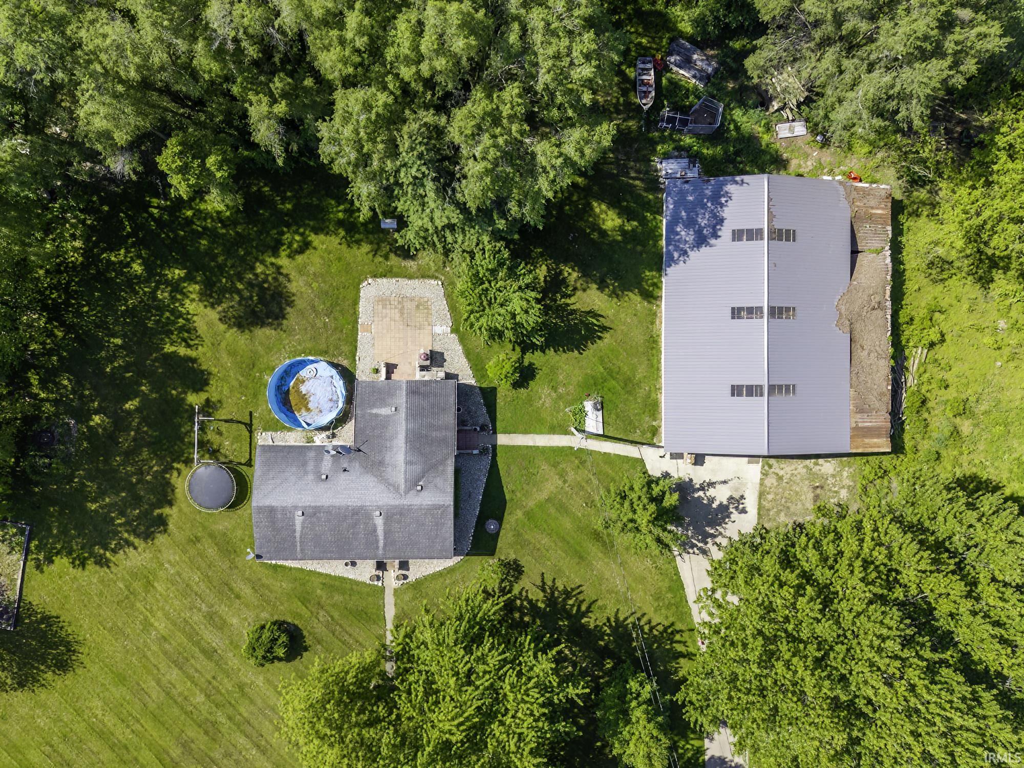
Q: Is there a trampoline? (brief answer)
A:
Yes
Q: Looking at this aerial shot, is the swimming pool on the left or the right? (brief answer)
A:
left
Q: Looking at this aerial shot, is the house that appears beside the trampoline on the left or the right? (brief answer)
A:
left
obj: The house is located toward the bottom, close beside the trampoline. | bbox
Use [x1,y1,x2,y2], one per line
[249,380,458,561]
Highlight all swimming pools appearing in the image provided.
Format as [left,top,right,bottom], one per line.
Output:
[266,356,350,431]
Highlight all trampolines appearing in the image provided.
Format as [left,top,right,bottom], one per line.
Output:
[185,463,236,512]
